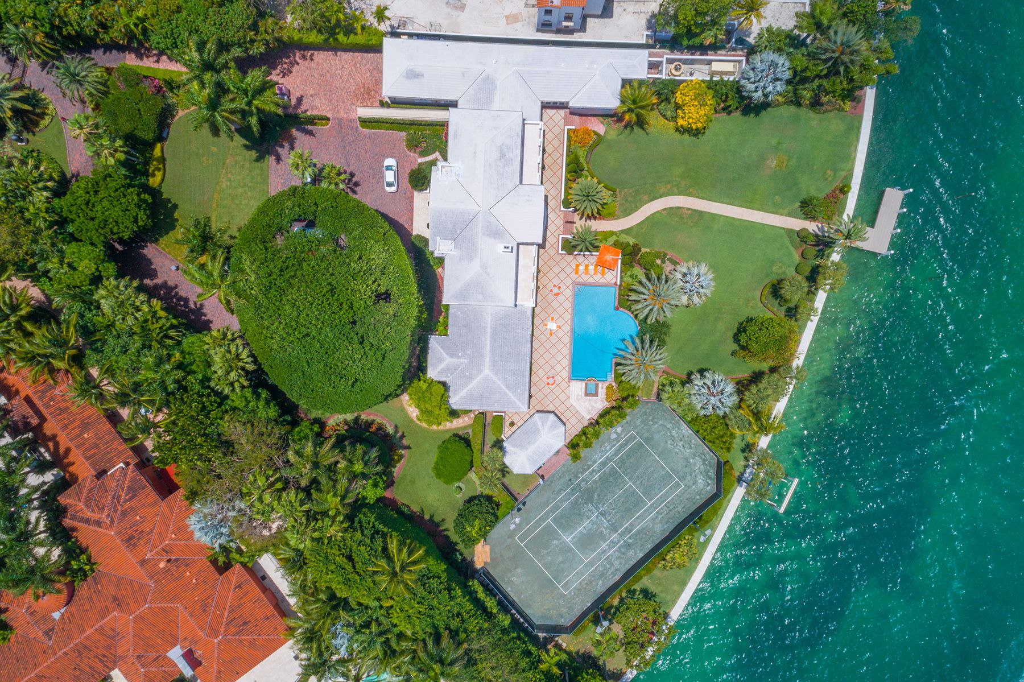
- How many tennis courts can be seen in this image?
1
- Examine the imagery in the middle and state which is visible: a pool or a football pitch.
pool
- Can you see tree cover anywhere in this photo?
Yes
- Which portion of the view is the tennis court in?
bottom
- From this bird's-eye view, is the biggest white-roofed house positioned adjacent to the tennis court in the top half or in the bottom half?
top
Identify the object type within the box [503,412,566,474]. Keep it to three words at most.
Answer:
building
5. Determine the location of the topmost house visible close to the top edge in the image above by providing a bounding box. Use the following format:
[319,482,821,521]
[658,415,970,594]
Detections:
[536,0,604,33]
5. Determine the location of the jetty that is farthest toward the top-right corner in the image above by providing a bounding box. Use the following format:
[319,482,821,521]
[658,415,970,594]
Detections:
[852,187,903,253]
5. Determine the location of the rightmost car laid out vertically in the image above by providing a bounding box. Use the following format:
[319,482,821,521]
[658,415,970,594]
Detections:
[382,158,398,192]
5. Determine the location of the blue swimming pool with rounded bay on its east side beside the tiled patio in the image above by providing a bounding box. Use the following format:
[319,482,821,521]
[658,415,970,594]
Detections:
[569,282,640,383]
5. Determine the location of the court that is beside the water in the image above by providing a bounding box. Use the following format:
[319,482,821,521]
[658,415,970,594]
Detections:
[483,399,716,625]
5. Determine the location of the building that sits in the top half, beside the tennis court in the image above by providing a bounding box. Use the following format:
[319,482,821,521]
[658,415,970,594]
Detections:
[383,38,648,410]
